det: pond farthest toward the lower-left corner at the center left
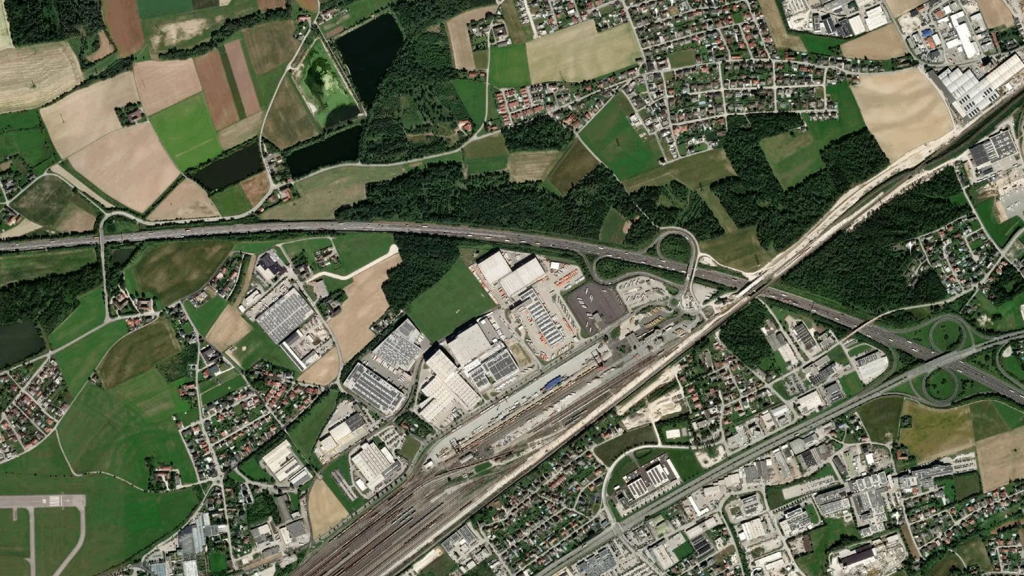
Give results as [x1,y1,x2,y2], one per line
[0,320,45,370]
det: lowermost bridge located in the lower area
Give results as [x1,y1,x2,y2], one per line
[892,332,1002,386]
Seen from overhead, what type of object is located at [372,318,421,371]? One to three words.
building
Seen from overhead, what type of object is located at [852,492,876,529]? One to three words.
building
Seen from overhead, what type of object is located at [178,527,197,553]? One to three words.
greenhouse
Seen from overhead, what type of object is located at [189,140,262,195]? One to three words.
pond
